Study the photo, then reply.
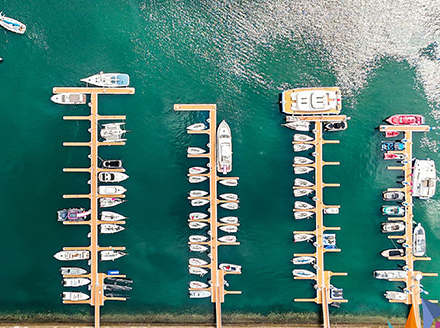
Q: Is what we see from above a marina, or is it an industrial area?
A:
marina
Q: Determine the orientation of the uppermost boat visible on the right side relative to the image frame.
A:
horizontally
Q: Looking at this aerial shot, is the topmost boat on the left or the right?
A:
left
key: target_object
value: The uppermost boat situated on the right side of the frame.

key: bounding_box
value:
[278,87,342,116]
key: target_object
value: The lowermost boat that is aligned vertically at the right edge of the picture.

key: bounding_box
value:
[413,225,426,256]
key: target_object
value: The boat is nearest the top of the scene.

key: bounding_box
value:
[0,12,27,35]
